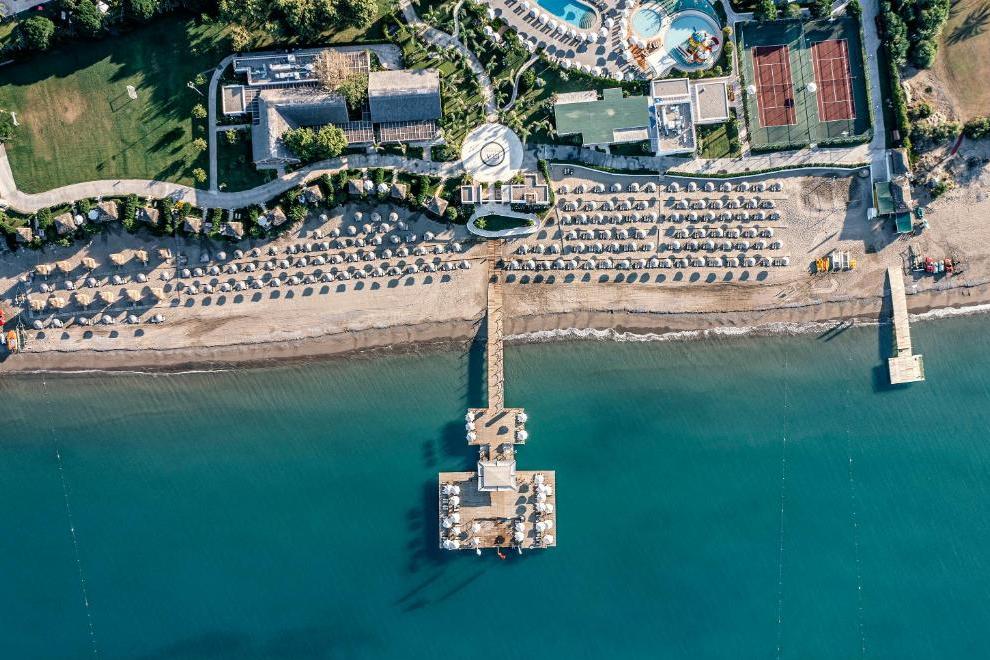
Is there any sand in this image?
Yes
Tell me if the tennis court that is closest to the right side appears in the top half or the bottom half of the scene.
top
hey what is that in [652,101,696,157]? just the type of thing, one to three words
building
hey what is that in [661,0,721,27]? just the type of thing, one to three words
swimming pool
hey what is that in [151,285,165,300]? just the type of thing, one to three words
umbrella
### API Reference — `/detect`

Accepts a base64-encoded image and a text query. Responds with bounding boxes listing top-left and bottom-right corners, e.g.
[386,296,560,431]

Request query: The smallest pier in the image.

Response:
[887,265,926,384]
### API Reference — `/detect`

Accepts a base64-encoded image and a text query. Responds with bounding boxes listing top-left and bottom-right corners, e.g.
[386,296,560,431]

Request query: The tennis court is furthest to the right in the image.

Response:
[803,16,867,141]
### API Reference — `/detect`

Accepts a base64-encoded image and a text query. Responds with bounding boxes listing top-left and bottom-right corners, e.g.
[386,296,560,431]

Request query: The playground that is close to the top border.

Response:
[675,24,719,63]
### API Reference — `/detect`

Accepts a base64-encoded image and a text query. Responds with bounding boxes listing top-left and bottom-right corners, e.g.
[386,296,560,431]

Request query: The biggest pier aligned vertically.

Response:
[439,244,556,549]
